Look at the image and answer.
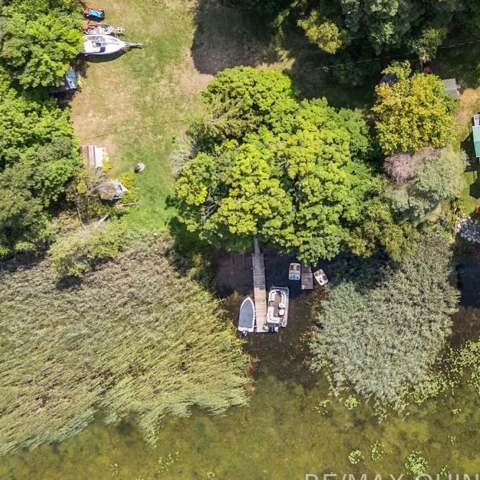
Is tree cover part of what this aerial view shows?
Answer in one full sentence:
Yes, tree cover can be seen from above here.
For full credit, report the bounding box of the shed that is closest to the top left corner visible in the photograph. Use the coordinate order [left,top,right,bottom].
[79,146,110,168]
